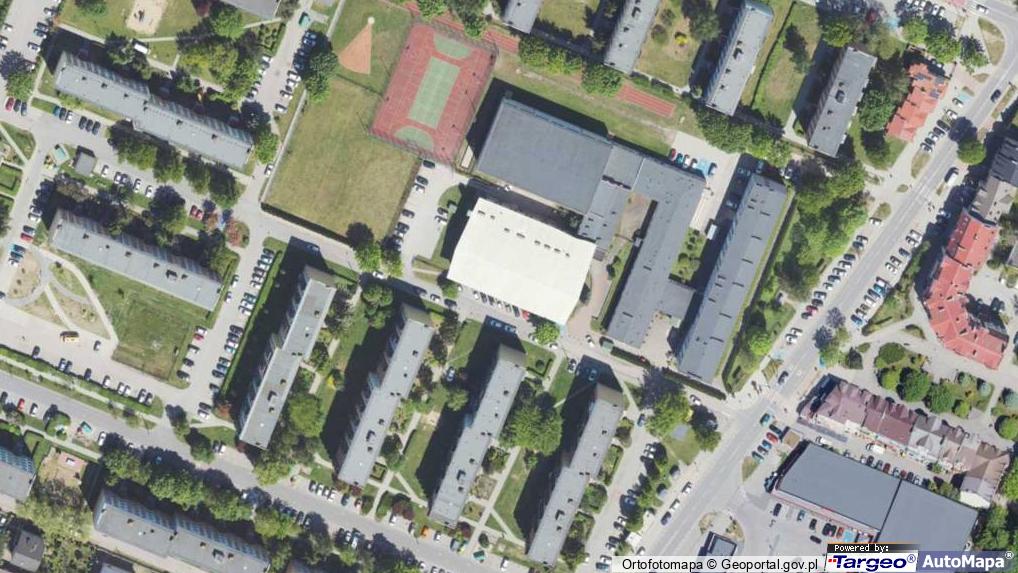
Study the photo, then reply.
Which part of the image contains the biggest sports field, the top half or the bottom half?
top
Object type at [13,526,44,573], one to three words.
house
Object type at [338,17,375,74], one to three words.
sports field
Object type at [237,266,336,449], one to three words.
building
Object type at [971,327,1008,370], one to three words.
house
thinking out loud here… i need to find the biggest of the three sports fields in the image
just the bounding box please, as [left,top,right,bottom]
[263,81,422,252]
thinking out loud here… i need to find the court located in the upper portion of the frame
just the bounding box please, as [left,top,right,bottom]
[371,24,497,162]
